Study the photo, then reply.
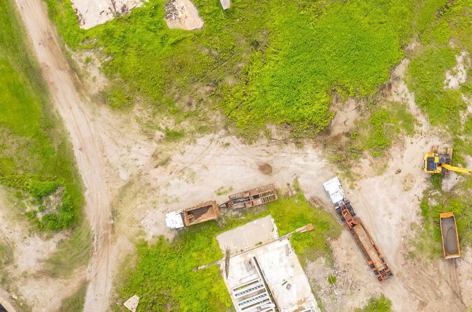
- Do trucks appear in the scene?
Yes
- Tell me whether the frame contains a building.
No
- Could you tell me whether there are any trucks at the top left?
No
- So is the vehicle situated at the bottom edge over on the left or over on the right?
right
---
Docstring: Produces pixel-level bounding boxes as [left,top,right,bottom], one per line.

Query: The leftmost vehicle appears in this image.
[163,205,219,235]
